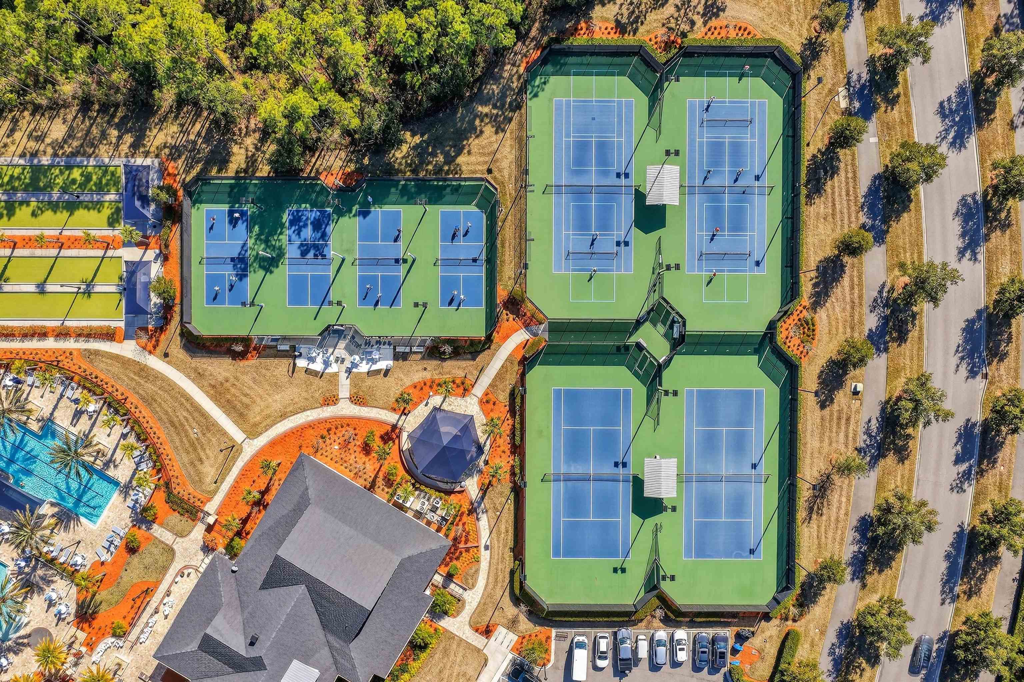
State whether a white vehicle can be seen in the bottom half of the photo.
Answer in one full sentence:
Yes, a white vehicle shows up in the bottom half of the photo.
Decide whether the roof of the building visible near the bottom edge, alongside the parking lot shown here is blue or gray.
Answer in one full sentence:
The roof of the building visible near the bottom edge, alongside the parking lot is gray.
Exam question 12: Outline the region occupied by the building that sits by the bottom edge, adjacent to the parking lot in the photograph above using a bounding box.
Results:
[153,452,452,682]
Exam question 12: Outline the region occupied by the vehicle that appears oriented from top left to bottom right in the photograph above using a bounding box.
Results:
[503,656,542,682]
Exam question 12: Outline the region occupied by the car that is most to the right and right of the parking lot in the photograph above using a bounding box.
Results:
[908,636,931,674]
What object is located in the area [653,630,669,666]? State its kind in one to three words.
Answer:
car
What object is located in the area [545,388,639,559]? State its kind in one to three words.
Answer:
tennis court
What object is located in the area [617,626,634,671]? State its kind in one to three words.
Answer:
vehicle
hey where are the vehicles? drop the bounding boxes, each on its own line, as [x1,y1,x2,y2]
[617,626,634,671]
[595,632,611,667]
[713,632,730,667]
[672,628,689,663]
[503,656,542,682]
[653,630,669,666]
[695,631,712,667]
[570,630,588,681]
[908,636,931,674]
[636,633,647,655]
